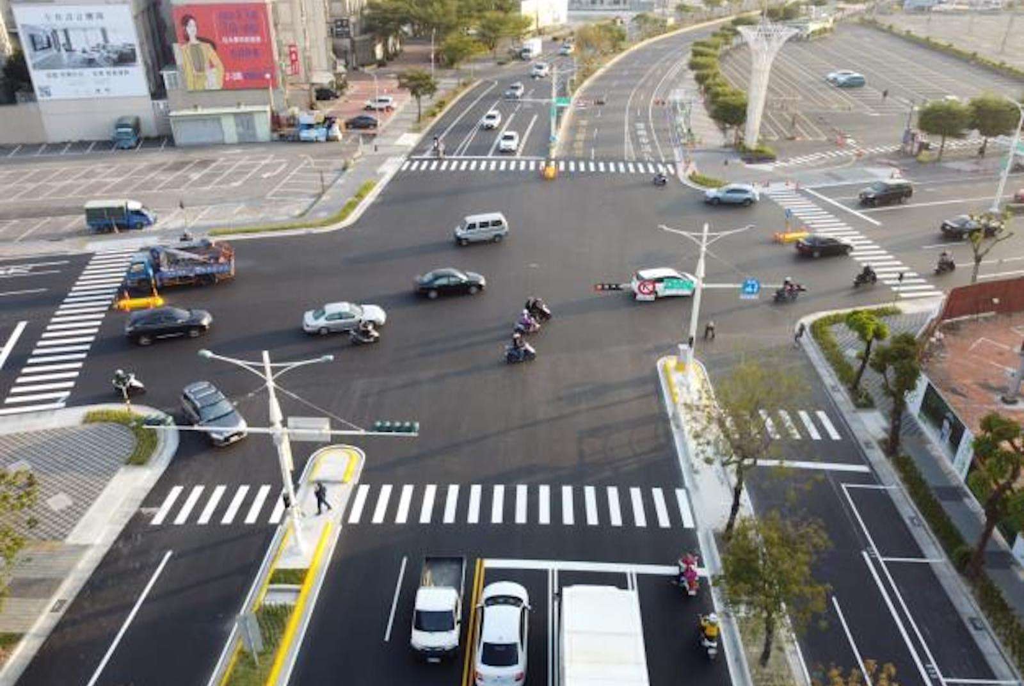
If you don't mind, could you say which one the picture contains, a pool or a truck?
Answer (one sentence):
The image shows a truck.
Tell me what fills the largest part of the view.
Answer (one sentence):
The scene is dominated by paved ground.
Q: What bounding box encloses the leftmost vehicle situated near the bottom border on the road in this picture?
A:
[399,551,467,672]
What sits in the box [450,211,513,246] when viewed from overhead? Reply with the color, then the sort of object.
gray car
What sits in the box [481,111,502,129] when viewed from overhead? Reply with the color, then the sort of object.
white car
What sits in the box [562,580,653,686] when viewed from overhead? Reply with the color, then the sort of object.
white truck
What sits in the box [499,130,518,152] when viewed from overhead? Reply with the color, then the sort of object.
white car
